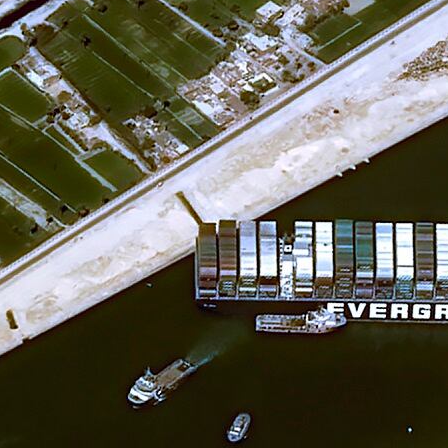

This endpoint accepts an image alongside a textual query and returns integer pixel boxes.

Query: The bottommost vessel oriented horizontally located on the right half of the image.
[256,306,346,331]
